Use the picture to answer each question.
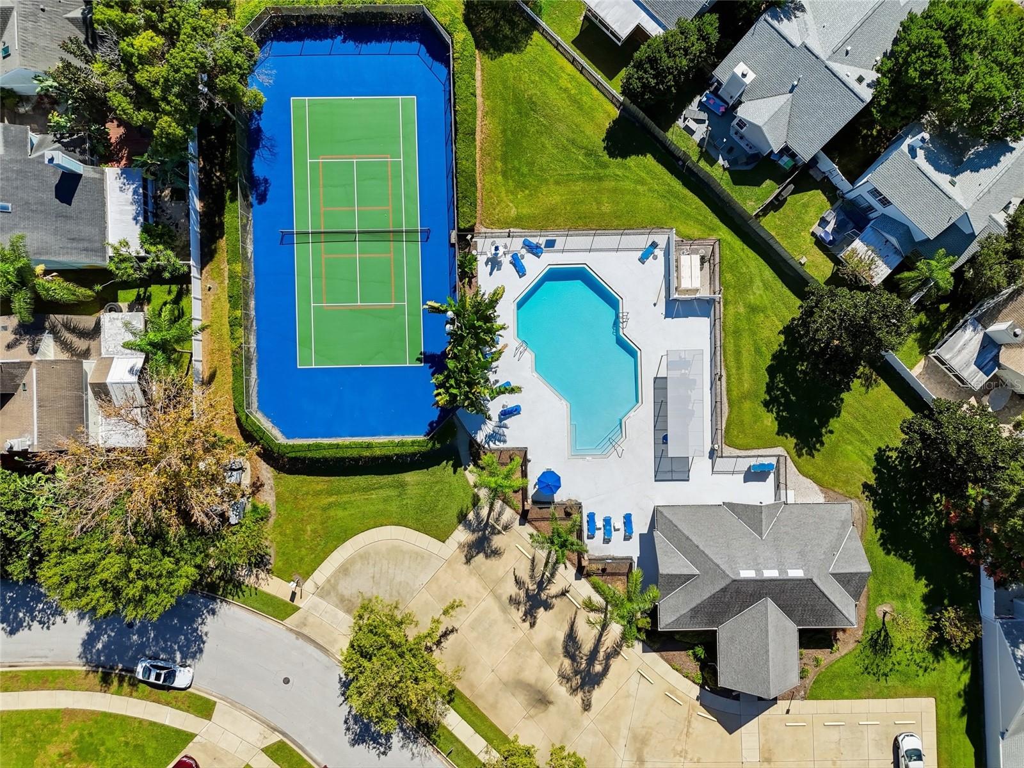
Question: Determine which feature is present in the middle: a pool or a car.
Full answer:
Visible in the middle is a pool.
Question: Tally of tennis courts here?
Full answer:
Altogether the scene contains 1 tennis court.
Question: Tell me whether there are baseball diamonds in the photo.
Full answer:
No, no baseball diamond is visible in the view.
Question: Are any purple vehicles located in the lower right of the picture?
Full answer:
No, there's no purple vehicle to be seen in the lower right of the picture.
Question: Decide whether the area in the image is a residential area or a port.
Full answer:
What you see here is a residential area.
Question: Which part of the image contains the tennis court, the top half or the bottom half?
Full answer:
The tennis court is in the top half of the image.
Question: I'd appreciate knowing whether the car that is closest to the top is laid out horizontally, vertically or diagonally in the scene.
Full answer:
I'd say the car that is closest to the top is aligned horizontally in the picture.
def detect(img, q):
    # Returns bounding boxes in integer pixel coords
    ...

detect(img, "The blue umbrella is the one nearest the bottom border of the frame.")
[537,471,560,494]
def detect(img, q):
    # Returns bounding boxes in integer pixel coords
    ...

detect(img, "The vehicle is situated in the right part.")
[893,731,924,768]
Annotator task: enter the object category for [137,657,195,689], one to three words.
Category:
car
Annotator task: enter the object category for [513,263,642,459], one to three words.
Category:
swimming pool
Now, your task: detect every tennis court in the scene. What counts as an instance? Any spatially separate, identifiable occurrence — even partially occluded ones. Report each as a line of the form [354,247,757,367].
[246,17,464,443]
